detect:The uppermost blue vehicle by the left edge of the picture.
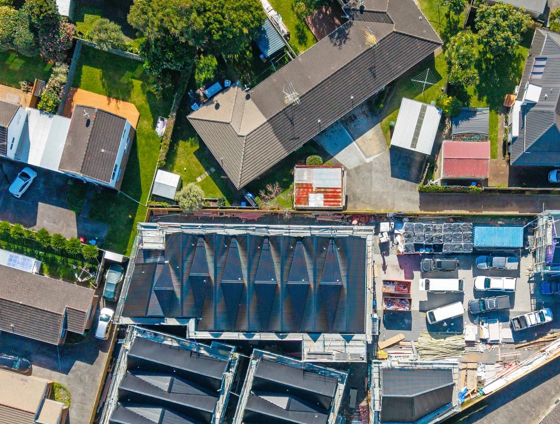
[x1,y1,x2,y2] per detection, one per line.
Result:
[9,165,36,199]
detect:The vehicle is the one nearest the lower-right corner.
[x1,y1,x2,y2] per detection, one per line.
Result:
[509,307,555,332]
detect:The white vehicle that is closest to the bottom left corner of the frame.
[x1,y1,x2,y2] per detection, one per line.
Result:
[93,306,116,341]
